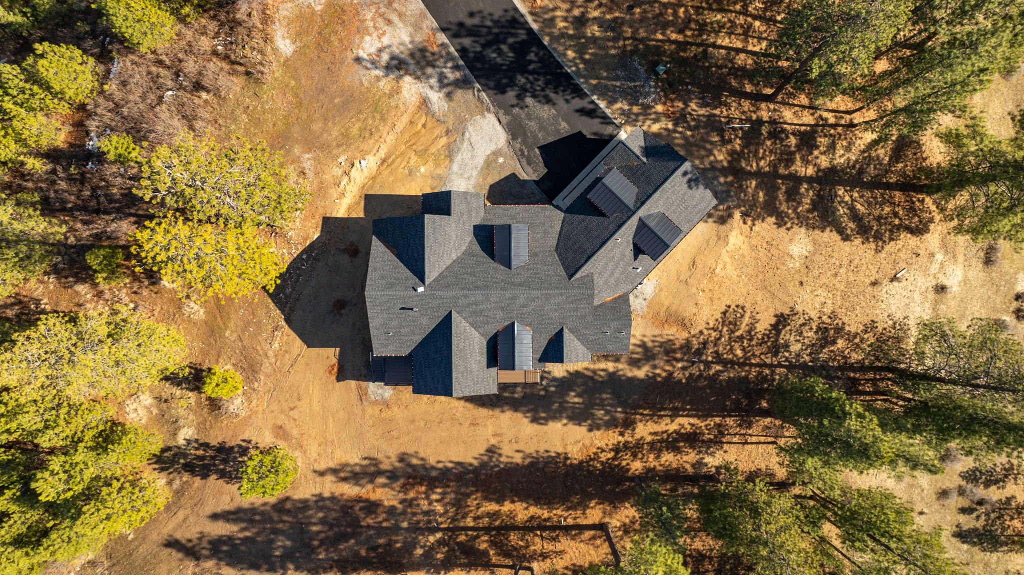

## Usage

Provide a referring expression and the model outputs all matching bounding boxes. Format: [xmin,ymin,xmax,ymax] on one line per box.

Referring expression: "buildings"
[365,124,718,397]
